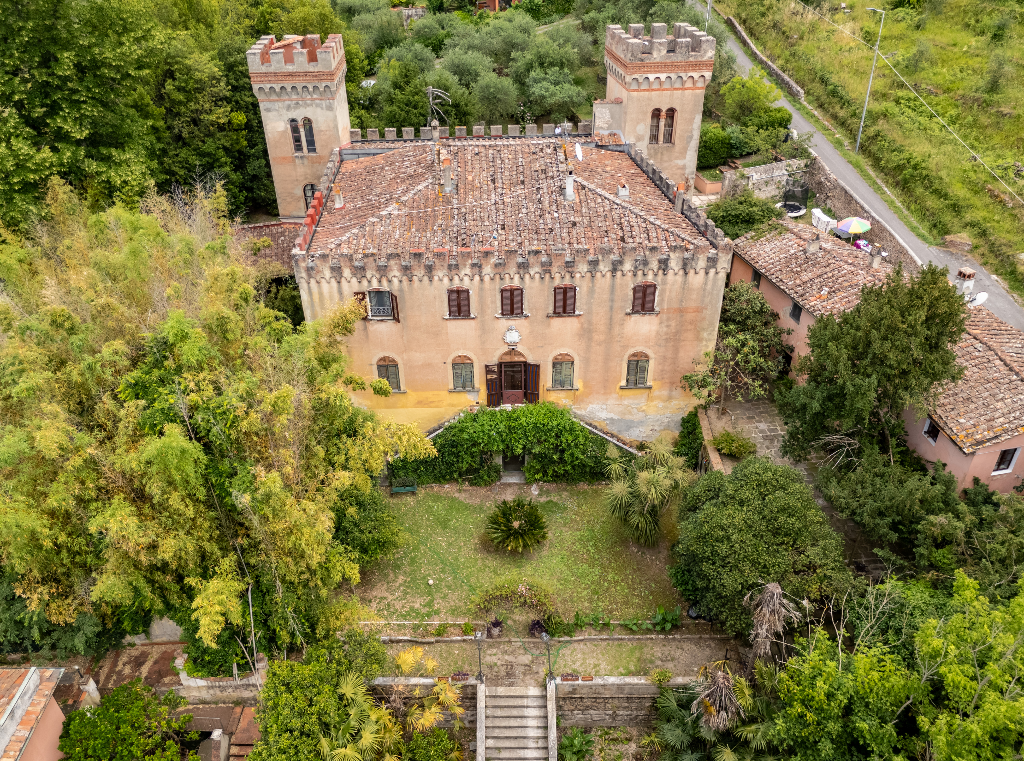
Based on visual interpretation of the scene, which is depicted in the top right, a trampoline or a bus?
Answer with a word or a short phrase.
trampoline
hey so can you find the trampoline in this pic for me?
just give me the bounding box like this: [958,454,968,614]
[774,182,812,222]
